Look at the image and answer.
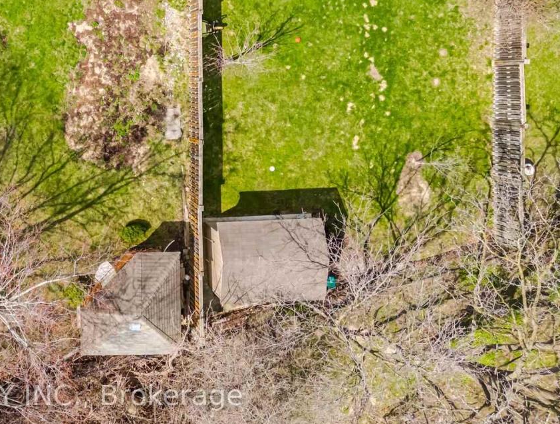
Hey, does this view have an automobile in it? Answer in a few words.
No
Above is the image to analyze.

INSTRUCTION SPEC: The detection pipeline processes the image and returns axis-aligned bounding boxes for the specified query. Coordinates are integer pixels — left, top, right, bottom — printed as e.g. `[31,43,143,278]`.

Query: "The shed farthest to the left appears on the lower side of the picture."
[79,244,182,357]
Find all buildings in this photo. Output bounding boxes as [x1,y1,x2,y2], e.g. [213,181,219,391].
[207,217,326,310]
[79,244,182,357]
